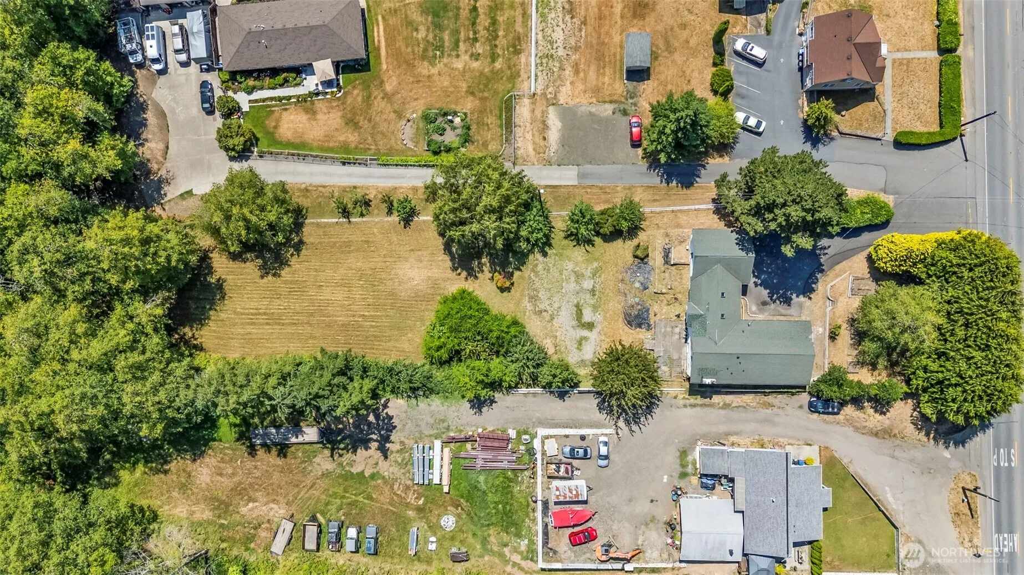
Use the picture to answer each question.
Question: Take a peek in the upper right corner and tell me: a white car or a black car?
white car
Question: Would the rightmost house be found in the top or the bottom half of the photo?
top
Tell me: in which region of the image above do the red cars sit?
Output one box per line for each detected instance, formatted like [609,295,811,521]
[629,115,643,147]
[568,527,599,546]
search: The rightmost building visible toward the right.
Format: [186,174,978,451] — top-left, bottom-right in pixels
[797,10,888,91]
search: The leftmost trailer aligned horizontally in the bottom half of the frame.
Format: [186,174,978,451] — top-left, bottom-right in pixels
[250,425,327,447]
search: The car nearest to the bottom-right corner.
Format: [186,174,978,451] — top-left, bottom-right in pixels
[808,400,842,414]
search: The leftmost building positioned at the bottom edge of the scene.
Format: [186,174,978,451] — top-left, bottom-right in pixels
[677,495,743,561]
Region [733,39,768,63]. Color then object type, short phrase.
white car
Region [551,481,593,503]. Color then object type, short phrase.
white trailer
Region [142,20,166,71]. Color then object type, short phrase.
white vehicle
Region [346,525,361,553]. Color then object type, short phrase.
white car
